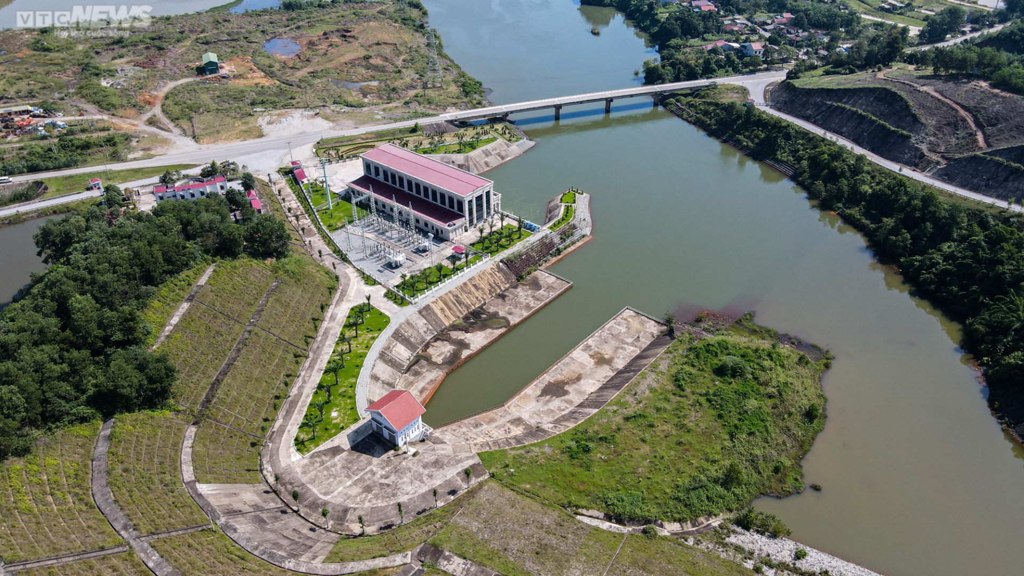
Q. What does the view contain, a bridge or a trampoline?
bridge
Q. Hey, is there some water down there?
Yes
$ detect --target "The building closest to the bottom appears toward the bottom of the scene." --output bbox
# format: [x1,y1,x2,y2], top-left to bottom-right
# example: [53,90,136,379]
[364,390,436,447]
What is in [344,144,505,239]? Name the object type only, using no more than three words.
building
